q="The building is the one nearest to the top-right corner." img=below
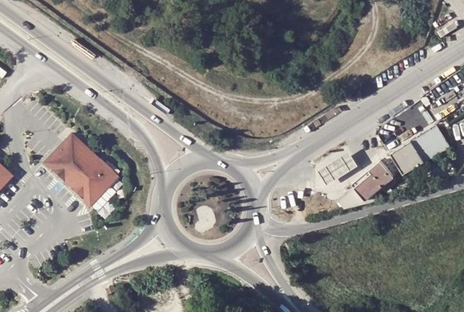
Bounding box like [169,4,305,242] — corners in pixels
[415,126,450,160]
